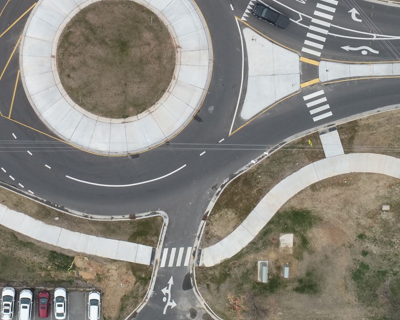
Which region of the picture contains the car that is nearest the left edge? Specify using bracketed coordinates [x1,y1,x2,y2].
[0,287,16,320]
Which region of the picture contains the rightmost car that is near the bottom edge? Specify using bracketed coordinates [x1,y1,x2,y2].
[87,290,100,320]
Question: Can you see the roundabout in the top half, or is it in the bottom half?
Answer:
top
